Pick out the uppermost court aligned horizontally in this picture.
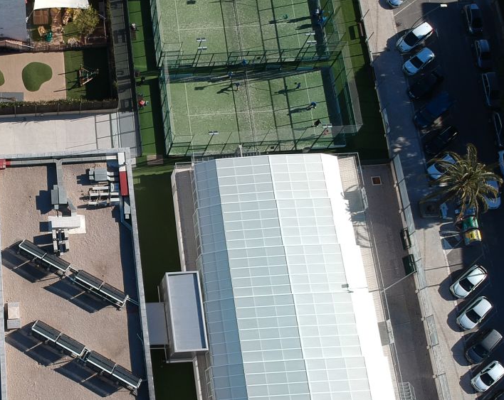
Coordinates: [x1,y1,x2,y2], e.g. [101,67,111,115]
[150,0,348,69]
